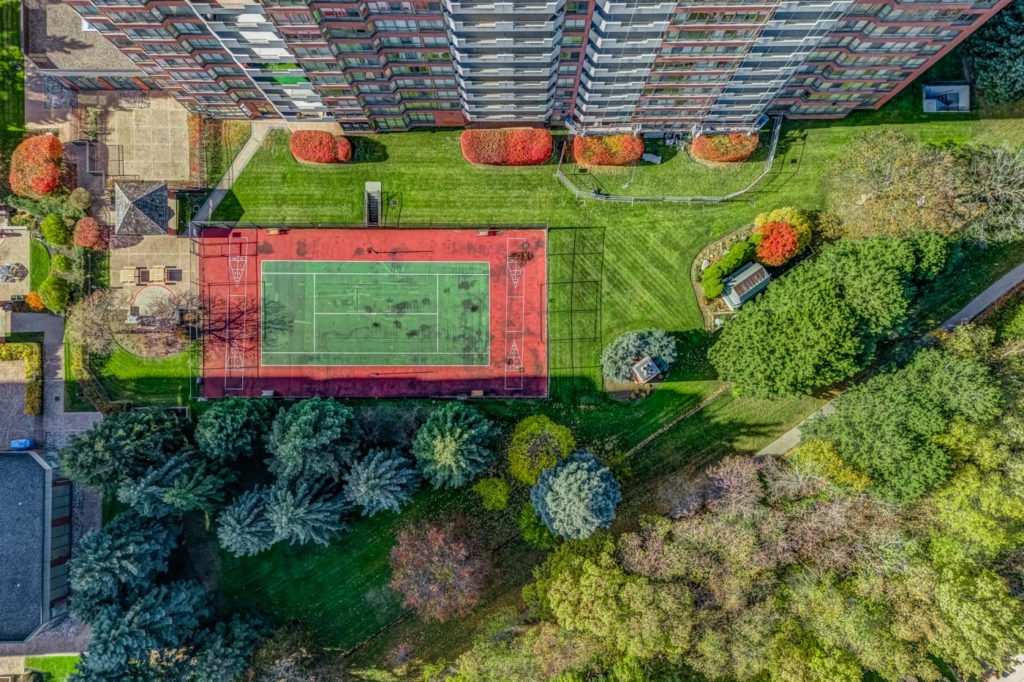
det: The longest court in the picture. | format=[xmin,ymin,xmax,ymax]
[197,227,547,399]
